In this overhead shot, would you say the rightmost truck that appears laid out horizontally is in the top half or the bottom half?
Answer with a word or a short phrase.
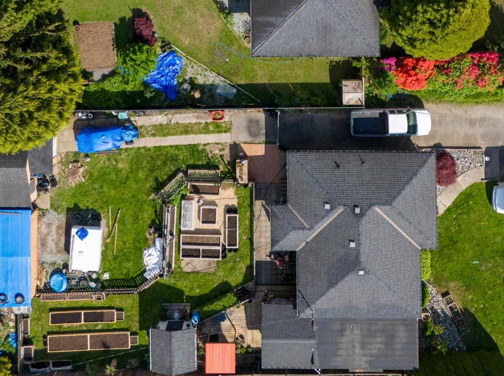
top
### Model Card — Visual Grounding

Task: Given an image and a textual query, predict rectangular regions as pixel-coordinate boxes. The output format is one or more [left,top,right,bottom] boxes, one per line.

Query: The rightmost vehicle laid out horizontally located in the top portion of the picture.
[348,103,431,138]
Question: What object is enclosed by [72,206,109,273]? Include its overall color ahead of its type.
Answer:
white trailer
